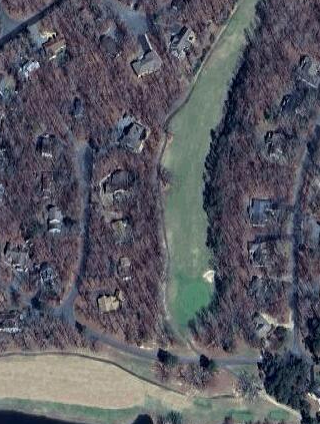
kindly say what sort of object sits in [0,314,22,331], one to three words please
house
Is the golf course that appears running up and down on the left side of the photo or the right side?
right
